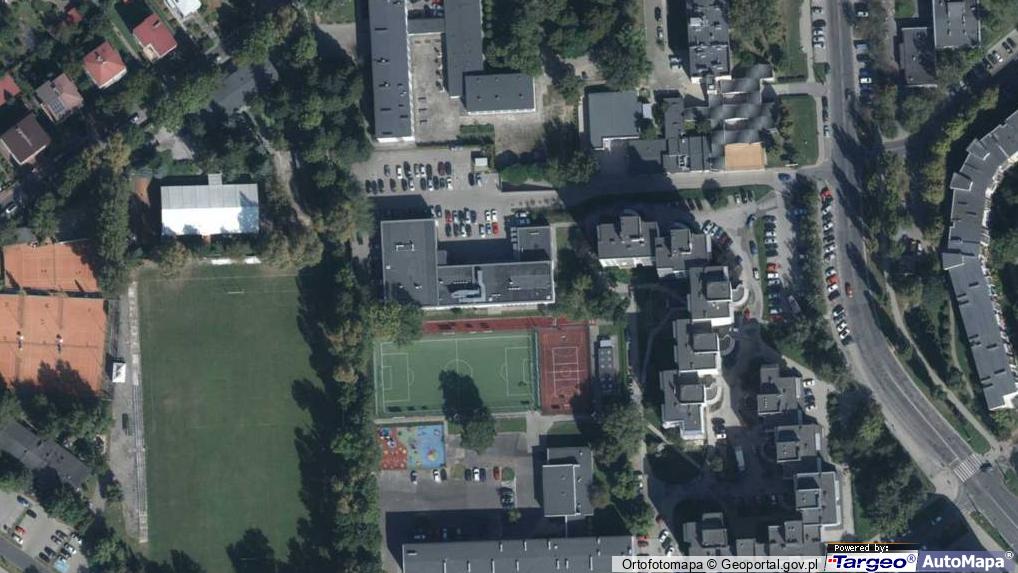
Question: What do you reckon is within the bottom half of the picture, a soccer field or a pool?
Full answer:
Looking within the bottom half of the picture, you will find a soccer field.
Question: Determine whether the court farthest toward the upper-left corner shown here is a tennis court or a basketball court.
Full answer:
Looking closely, the court farthest toward the upper-left corner is a tennis court.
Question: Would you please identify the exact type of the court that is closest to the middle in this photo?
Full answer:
From above, the court that is closest to the middle can be identified as a basketball court.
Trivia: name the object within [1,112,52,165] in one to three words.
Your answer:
house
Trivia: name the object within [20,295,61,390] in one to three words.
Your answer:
tennis court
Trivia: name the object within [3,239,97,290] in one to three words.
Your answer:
tennis court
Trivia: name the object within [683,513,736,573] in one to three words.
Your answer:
building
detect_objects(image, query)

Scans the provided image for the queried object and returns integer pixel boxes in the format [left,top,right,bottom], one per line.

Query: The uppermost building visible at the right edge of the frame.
[933,0,980,52]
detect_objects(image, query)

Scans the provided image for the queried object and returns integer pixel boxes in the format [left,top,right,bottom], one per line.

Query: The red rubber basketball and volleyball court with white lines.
[541,328,592,415]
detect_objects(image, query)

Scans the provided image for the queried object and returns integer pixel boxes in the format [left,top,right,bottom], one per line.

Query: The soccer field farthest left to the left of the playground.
[139,262,351,573]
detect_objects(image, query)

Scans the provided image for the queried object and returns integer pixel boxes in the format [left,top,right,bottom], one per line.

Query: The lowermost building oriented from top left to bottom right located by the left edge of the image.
[0,418,89,489]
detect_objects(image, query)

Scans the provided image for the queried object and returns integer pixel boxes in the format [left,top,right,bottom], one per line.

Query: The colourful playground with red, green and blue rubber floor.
[377,424,445,471]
